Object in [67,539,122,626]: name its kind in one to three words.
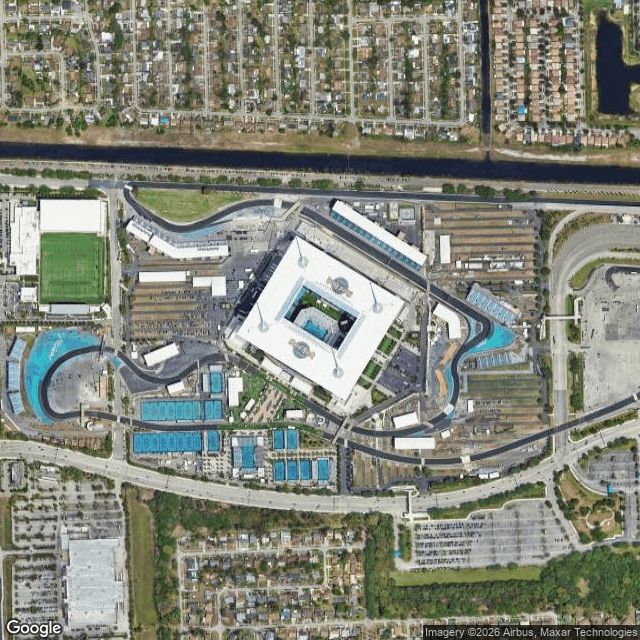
building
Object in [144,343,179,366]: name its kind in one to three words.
tent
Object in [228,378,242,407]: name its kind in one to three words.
building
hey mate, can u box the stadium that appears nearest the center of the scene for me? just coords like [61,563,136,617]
[227,235,404,400]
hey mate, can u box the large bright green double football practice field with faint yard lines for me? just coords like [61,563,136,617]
[41,234,104,304]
